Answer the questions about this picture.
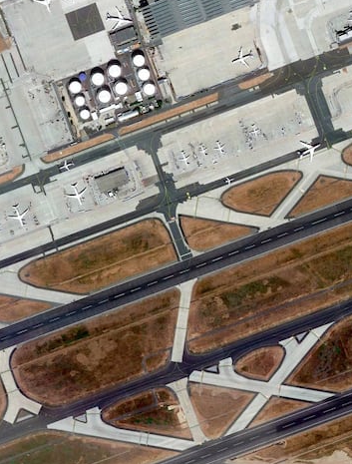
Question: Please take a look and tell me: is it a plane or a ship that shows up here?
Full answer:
There is a plane in the scene.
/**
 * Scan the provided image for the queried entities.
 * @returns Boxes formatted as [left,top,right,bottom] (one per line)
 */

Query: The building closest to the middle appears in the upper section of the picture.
[94,166,130,193]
